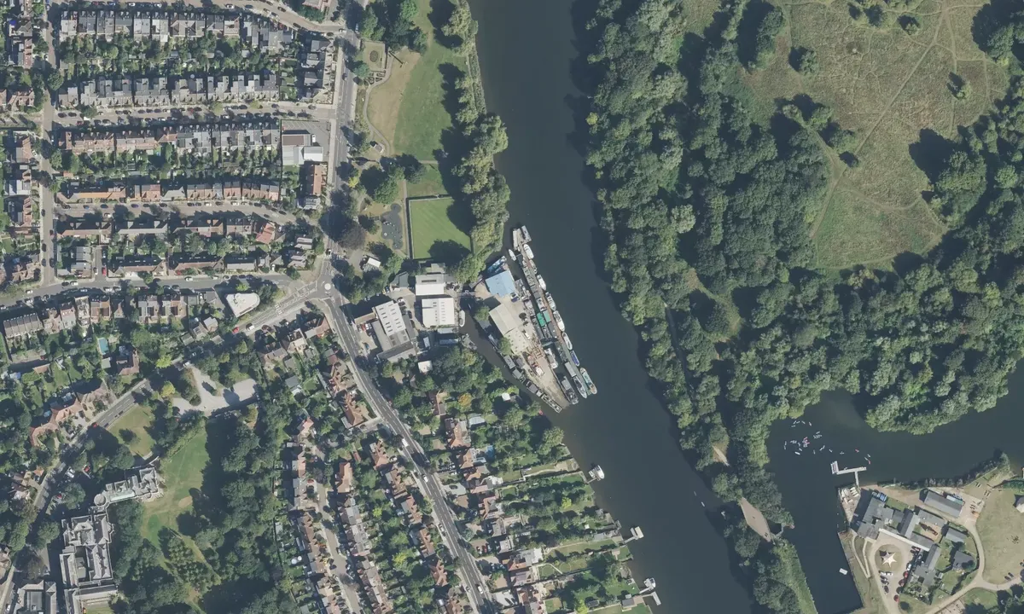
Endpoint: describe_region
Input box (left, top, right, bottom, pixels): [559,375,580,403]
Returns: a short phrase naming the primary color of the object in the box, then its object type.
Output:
gray boat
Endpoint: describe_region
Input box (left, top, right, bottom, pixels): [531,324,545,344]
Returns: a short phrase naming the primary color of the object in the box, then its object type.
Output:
gray boat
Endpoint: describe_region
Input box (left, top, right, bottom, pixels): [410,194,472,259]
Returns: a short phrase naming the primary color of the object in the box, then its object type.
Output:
green sports field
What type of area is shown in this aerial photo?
residential area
